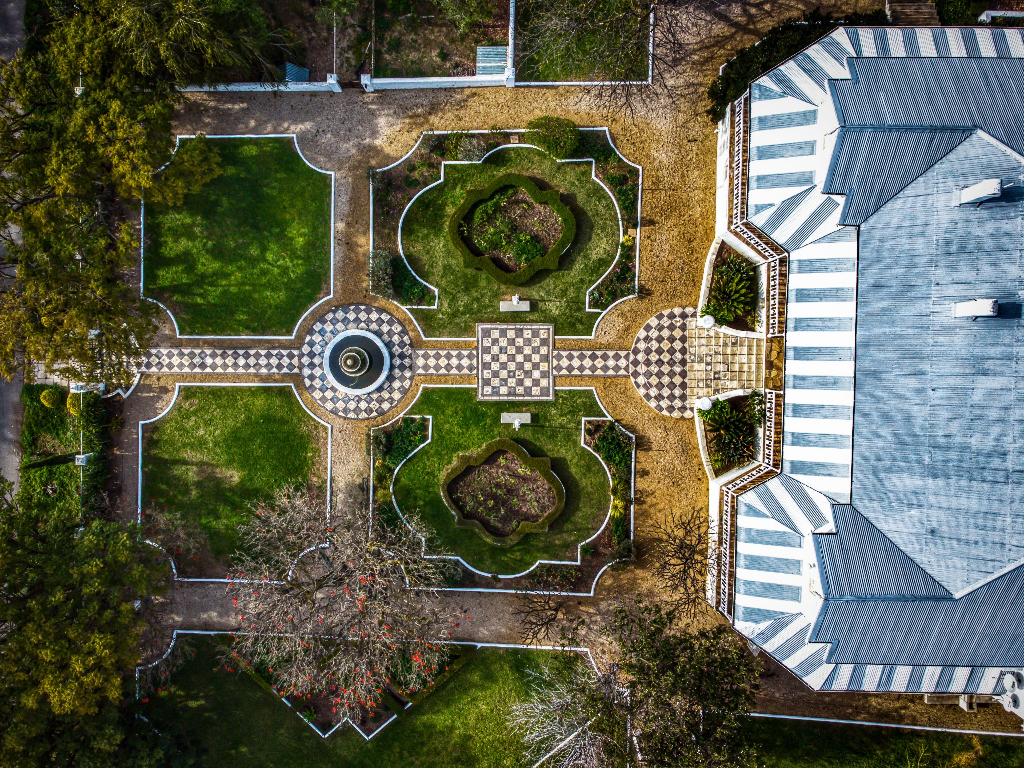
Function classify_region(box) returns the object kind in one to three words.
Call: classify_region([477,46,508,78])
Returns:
shed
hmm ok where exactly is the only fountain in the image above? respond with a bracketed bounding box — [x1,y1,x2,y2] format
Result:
[324,329,390,395]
